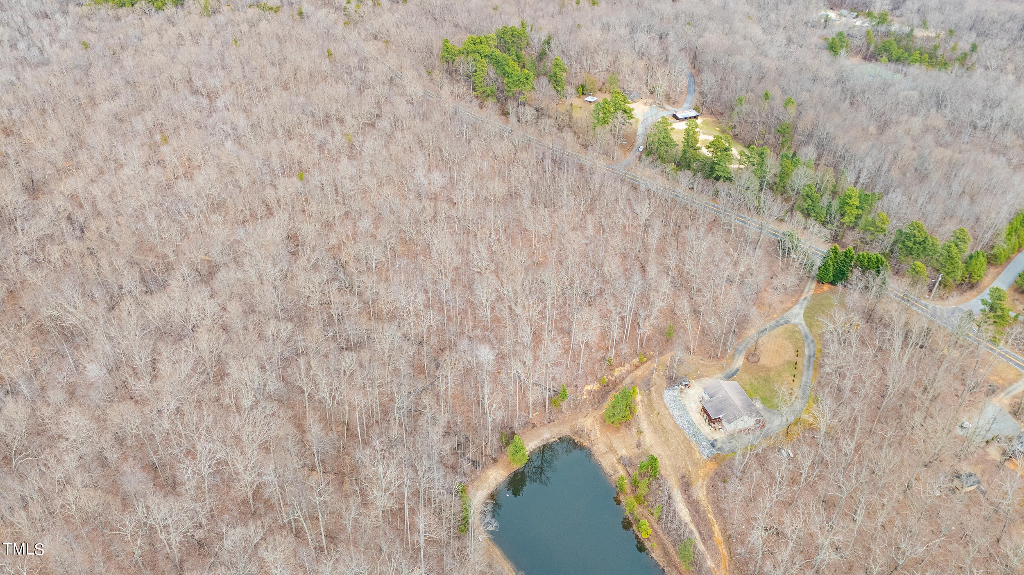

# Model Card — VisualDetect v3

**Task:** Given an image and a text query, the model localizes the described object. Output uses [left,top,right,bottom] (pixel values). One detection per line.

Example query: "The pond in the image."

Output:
[488,436,665,575]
